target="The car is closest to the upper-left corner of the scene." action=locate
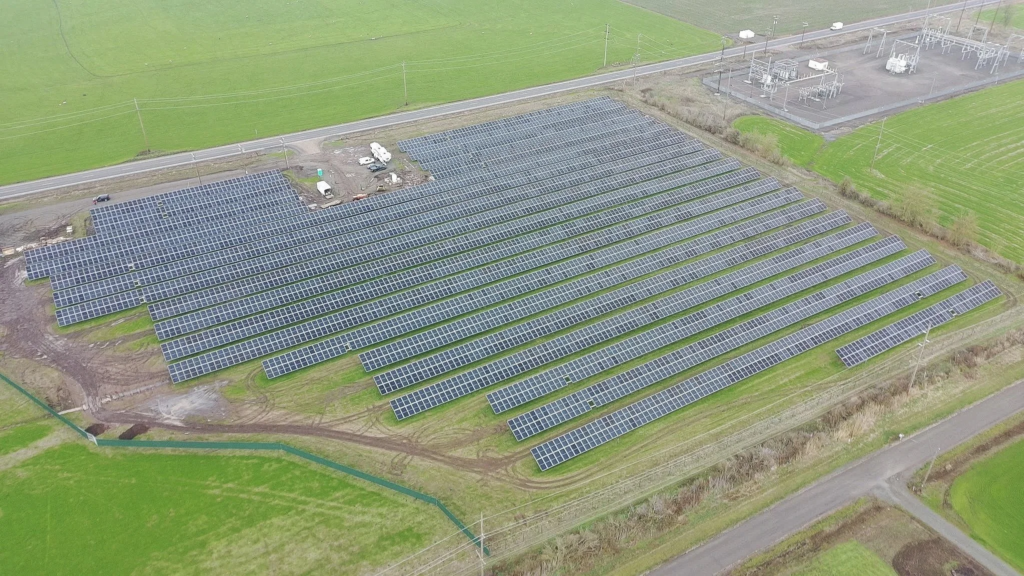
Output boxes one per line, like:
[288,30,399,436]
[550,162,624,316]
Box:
[90,192,111,204]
